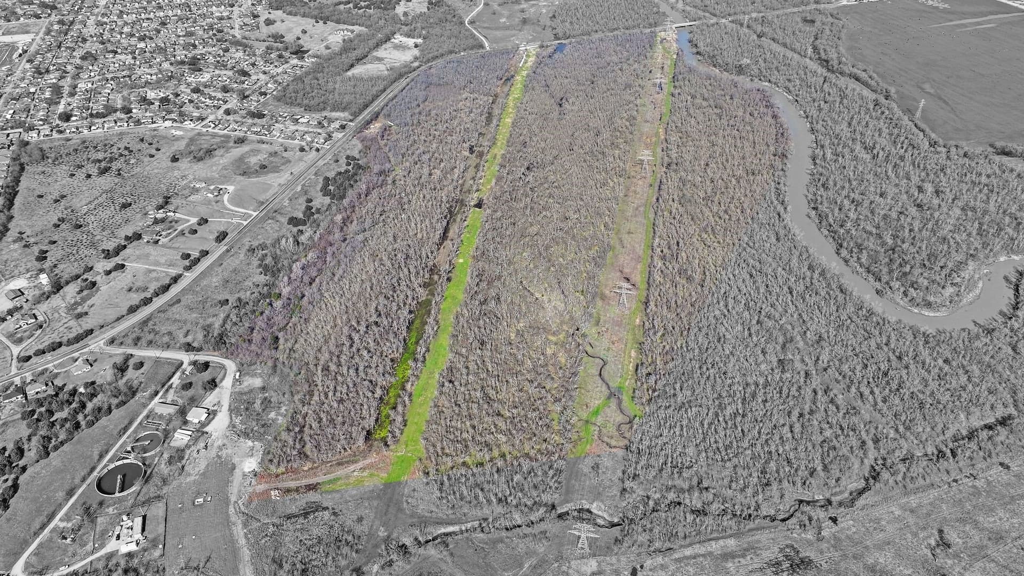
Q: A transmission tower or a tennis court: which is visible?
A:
transmission tower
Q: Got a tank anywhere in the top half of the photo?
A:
No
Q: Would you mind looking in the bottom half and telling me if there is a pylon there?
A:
Yes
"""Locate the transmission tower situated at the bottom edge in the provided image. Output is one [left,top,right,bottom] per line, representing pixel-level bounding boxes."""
[568,518,602,563]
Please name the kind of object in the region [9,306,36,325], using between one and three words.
house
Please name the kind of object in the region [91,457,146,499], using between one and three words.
storage tank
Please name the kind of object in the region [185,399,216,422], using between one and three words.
building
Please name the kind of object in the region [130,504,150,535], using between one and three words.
building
